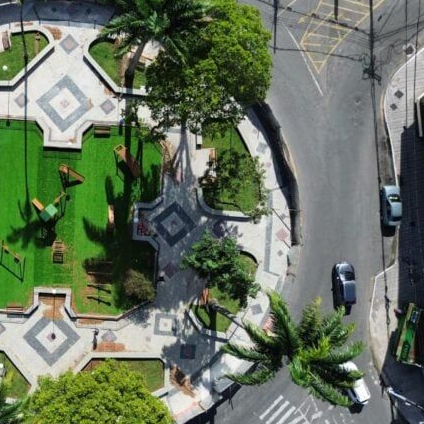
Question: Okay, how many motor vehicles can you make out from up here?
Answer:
3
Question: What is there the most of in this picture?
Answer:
paved ground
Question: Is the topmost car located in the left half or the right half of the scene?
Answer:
right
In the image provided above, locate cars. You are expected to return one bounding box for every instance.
[337,359,370,405]
[377,185,403,227]
[334,265,360,309]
